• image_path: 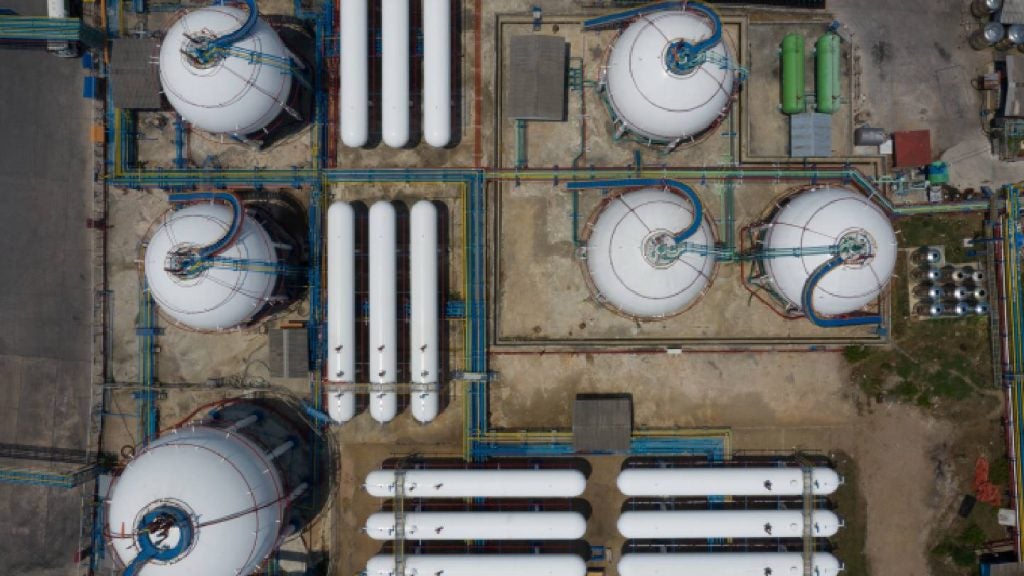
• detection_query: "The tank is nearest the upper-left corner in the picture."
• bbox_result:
[155,0,317,149]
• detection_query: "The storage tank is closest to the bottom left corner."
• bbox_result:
[106,410,309,576]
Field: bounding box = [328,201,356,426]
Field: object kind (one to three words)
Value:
storage tank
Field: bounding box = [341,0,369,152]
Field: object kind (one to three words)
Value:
storage tank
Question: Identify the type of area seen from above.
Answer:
industrial area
